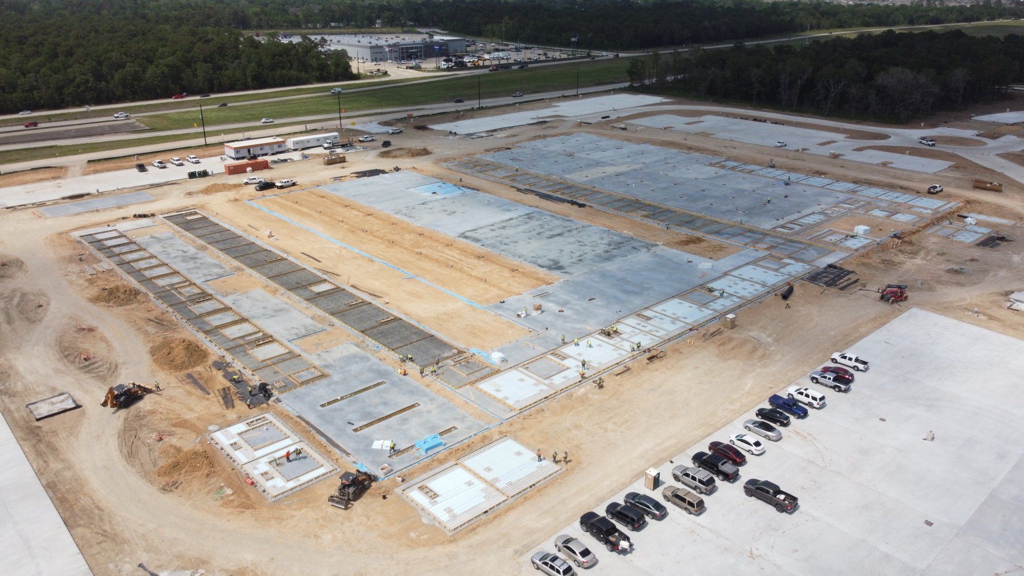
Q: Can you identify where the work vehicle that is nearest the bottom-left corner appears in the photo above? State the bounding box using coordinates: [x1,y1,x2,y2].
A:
[100,381,152,413]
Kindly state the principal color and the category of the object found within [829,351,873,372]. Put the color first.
white truck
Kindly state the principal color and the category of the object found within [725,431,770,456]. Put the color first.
white car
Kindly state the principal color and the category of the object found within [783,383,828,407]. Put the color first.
white car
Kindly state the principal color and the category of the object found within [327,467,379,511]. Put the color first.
gray work vehicle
